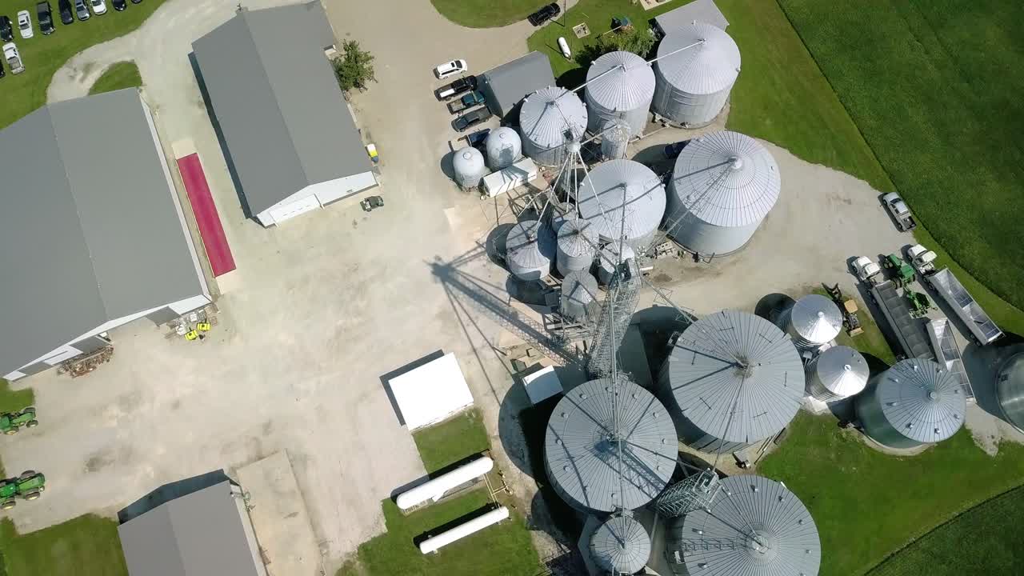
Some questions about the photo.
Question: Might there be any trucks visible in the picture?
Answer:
Yes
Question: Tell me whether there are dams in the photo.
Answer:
No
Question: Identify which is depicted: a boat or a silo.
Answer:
silo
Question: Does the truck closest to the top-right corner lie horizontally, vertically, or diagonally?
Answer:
diagonally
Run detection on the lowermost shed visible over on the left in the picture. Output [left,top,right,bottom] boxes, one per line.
[117,480,266,576]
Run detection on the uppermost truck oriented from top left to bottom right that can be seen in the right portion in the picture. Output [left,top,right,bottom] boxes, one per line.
[879,190,921,236]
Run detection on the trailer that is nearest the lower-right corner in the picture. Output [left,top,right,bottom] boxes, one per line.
[922,317,981,414]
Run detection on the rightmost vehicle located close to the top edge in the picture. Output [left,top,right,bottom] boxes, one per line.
[523,1,563,27]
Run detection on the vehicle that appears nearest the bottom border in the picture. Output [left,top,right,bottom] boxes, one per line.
[0,469,48,508]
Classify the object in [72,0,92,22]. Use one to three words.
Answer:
car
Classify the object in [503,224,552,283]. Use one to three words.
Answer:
silo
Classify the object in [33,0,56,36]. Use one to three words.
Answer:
truck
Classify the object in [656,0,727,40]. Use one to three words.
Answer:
shed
